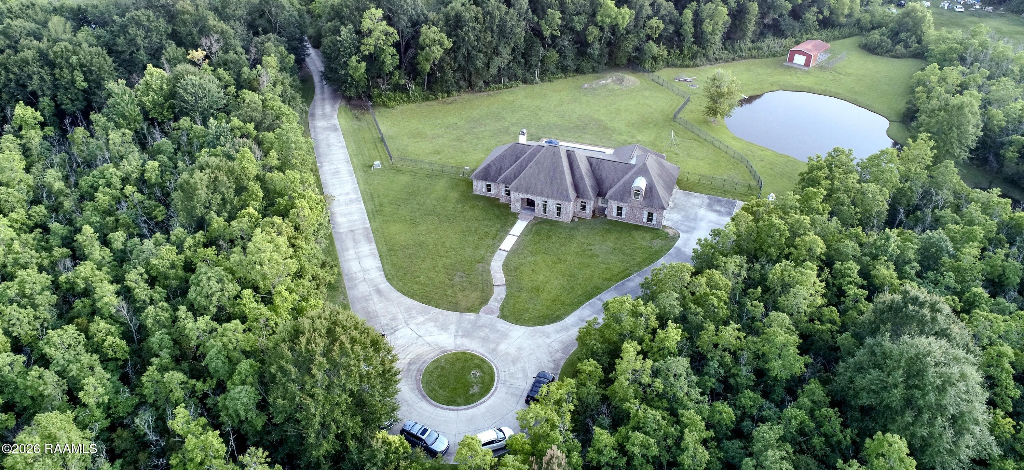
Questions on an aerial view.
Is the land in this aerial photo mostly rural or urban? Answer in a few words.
rural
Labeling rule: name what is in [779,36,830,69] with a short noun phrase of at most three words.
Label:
shed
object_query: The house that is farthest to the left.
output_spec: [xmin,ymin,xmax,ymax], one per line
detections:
[470,126,681,228]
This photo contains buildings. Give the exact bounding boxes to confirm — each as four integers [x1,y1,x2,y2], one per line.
[779,36,830,69]
[470,126,681,228]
